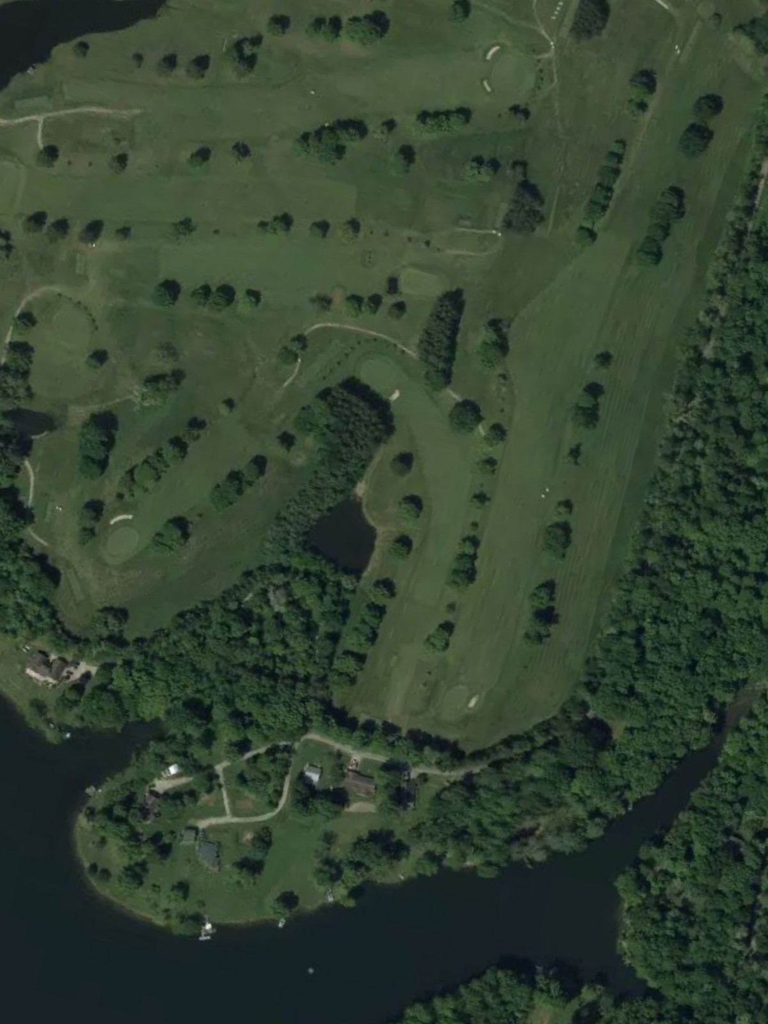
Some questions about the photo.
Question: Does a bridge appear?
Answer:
No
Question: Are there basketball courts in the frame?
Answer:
No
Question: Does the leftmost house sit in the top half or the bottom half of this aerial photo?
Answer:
bottom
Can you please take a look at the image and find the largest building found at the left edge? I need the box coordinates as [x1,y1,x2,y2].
[30,653,66,683]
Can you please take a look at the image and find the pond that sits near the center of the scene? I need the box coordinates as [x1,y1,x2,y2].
[304,500,372,573]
